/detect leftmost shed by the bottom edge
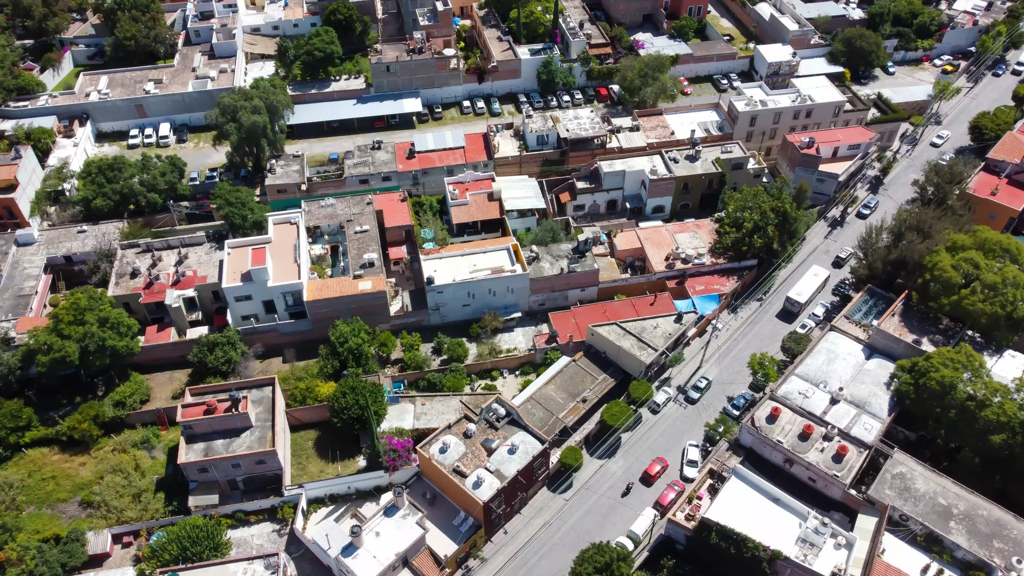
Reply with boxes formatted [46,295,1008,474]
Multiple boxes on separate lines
[86,528,119,566]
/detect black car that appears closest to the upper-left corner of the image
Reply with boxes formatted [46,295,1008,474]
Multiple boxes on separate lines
[176,125,189,142]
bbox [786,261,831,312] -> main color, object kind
white bus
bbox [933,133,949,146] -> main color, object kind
white vehicle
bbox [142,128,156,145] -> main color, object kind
white car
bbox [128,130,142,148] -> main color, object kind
white car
